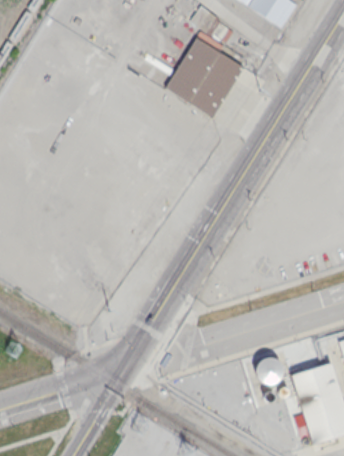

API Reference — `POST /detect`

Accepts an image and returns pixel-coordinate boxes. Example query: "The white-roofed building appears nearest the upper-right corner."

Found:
[248,0,297,28]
